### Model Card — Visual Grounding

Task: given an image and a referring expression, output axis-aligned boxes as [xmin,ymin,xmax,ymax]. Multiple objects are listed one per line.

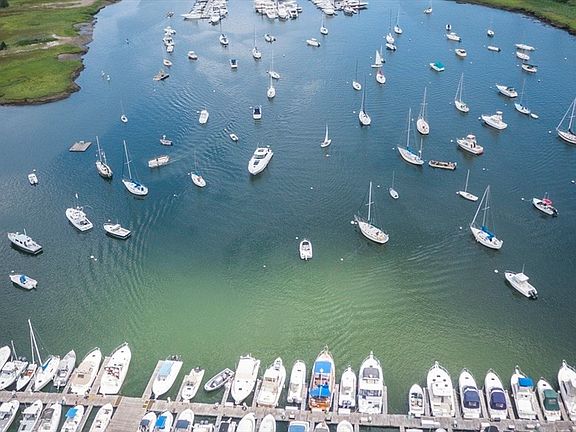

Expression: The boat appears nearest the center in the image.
[298,238,312,260]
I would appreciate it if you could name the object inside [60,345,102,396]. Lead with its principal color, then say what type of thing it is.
white boat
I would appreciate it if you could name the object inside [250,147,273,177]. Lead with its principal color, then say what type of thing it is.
white boat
